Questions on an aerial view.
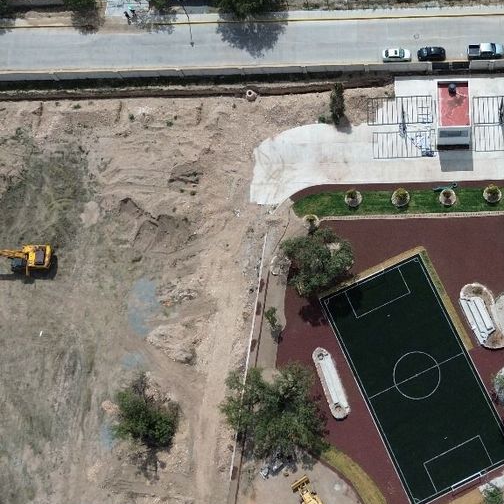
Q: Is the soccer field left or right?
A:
right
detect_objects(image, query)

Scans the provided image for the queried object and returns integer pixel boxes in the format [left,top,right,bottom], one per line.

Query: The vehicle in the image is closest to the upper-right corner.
[466,42,504,60]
